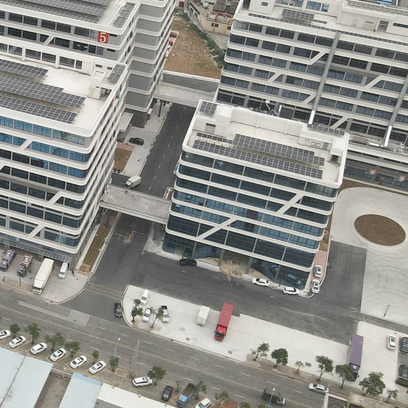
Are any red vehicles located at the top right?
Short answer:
No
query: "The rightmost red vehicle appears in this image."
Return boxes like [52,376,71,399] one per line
[212,293,237,345]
